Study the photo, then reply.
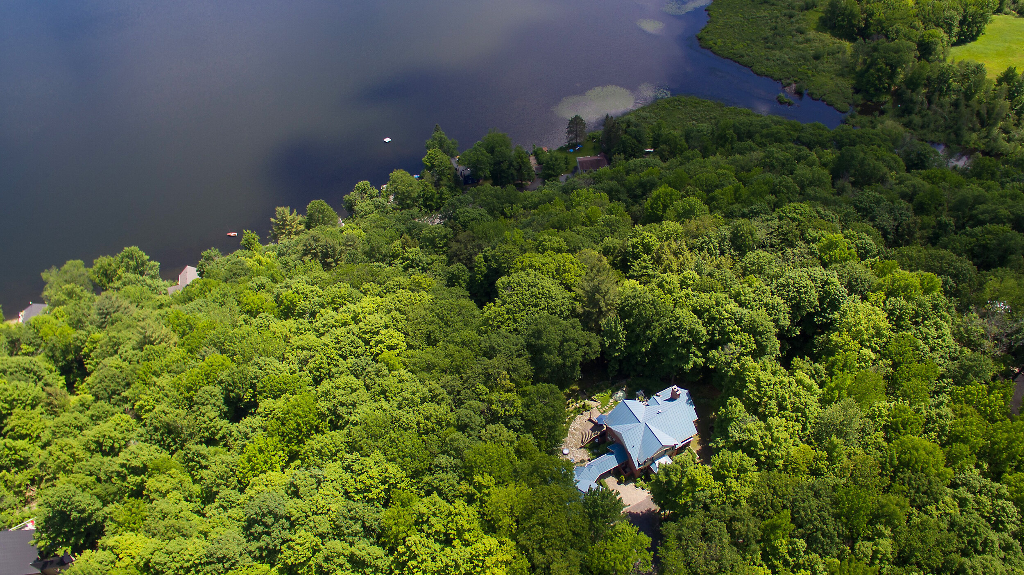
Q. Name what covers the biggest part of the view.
trees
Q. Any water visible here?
Yes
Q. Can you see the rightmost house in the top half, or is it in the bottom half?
bottom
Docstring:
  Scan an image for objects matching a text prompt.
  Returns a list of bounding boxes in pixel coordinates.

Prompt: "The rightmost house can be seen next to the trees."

[603,384,699,481]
